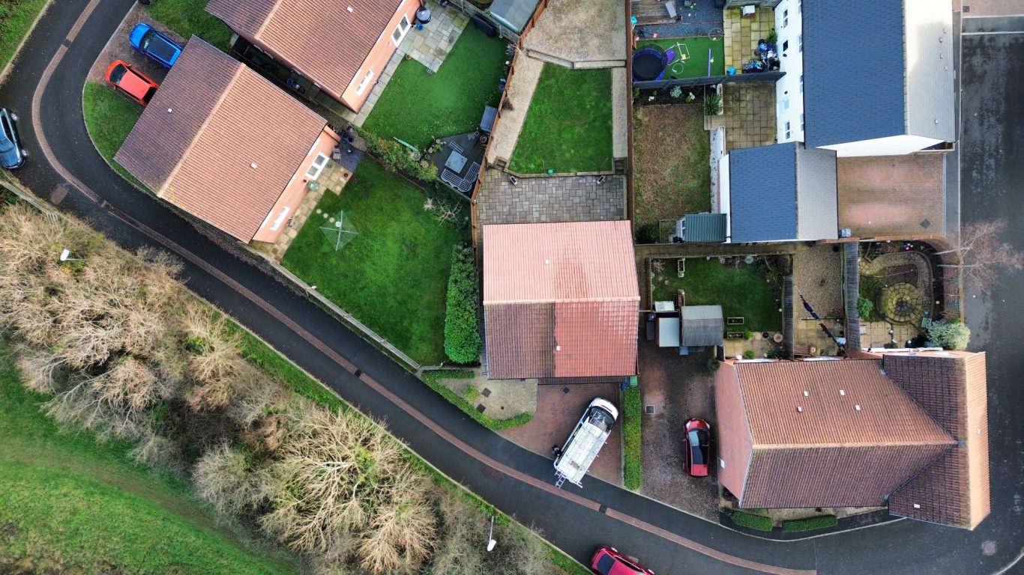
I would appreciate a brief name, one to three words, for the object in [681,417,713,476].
car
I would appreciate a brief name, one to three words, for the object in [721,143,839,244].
building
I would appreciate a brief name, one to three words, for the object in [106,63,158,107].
car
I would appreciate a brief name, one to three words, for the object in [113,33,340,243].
house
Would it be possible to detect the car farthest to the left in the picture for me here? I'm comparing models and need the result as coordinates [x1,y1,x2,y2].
[0,105,26,170]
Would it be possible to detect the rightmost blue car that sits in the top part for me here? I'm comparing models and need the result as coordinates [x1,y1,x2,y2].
[132,21,186,64]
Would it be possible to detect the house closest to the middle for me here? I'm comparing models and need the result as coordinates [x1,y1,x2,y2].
[483,219,643,388]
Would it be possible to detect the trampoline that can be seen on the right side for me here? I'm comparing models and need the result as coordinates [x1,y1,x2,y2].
[631,39,670,81]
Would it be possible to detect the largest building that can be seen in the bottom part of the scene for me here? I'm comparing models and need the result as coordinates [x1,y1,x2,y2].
[715,347,991,532]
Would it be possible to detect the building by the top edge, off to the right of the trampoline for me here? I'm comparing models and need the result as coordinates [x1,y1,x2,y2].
[776,0,956,158]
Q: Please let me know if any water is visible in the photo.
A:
No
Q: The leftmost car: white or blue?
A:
blue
